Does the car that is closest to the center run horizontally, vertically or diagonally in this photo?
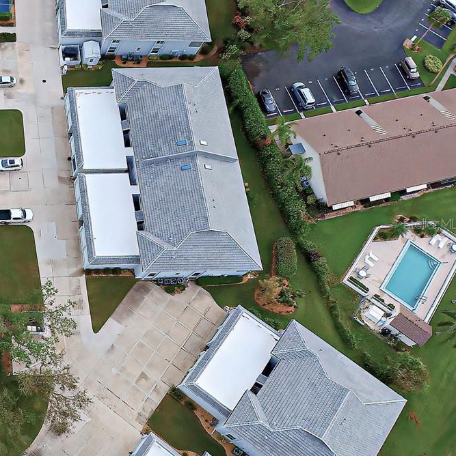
diagonally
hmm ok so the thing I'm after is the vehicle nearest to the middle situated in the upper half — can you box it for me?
[256,89,279,113]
